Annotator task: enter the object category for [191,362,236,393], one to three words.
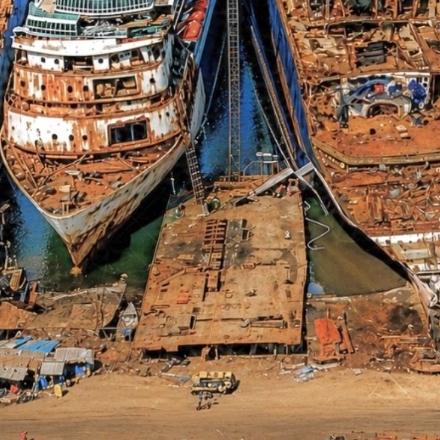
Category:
truck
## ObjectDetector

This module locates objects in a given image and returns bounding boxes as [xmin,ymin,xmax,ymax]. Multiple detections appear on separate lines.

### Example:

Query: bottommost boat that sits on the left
[119,300,137,333]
